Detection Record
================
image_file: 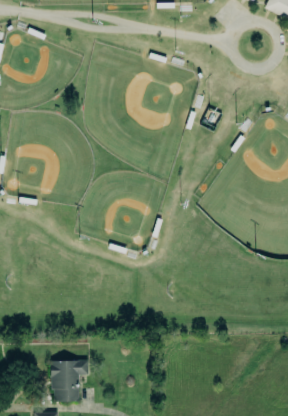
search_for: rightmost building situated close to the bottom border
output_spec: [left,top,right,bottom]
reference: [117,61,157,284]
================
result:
[51,361,90,404]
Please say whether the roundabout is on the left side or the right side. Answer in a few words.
right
